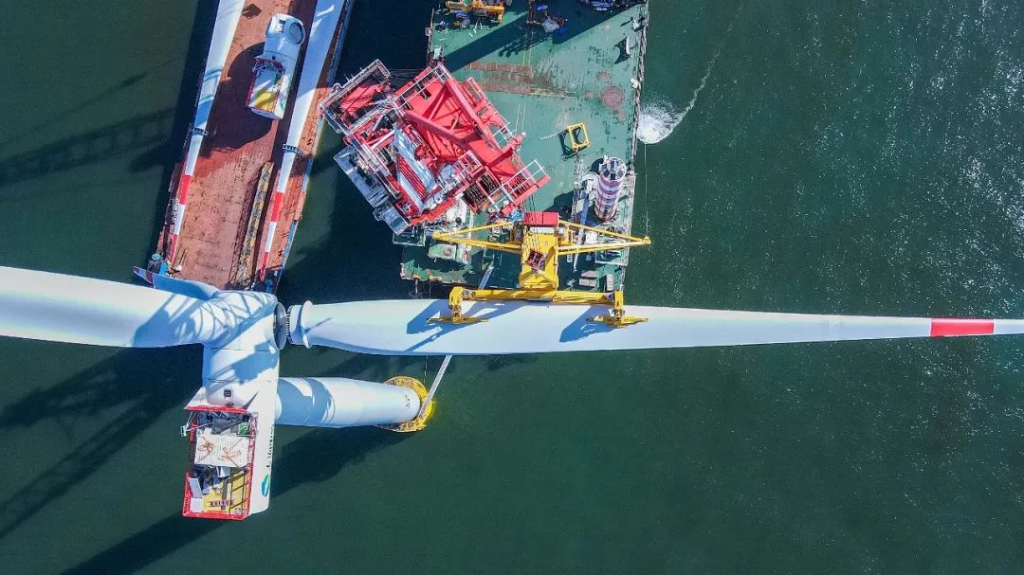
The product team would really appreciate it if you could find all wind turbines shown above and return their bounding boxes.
[0,264,440,526]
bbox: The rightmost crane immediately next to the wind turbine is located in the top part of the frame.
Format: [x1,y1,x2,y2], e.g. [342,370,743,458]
[323,59,552,277]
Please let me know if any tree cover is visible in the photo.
No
